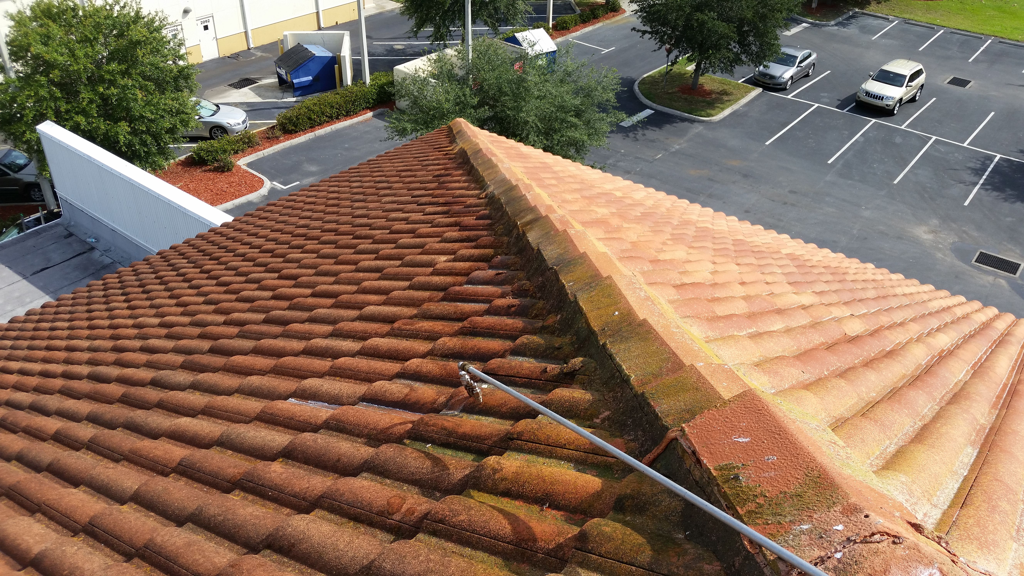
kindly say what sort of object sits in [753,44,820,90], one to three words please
car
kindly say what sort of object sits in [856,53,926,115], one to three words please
car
